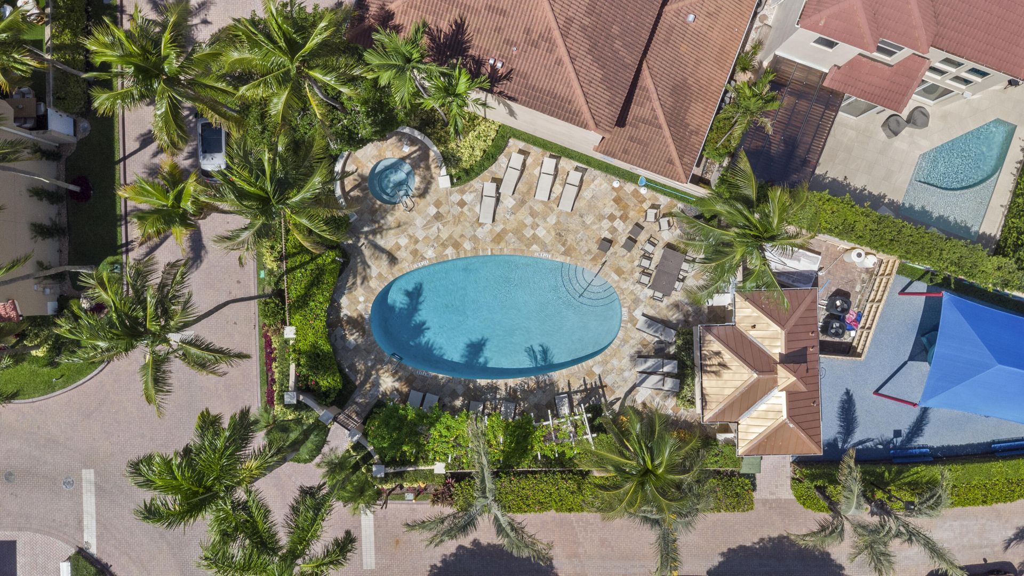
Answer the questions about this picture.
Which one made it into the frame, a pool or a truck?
pool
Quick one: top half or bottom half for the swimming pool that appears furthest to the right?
top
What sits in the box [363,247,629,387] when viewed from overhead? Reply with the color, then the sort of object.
blue swimming pool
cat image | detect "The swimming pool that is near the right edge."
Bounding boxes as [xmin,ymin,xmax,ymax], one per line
[900,118,1017,240]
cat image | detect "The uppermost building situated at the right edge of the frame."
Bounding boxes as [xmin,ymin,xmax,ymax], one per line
[752,0,1024,114]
